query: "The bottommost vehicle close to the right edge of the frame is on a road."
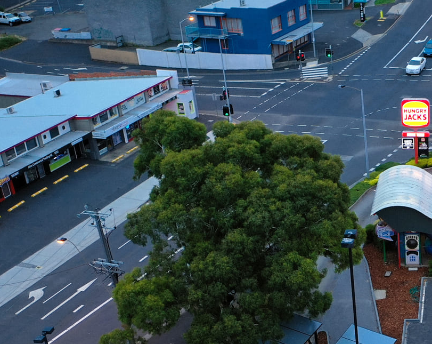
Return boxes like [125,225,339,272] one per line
[403,55,428,73]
